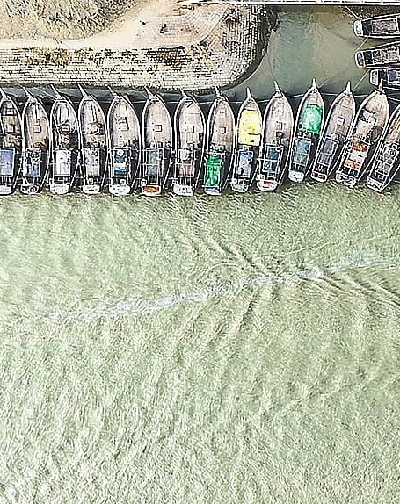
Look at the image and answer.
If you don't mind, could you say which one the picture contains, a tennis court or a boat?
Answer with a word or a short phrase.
boat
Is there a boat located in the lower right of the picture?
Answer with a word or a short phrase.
No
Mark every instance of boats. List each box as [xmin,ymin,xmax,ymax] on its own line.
[372,66,400,91]
[288,78,324,182]
[172,90,206,198]
[367,109,400,192]
[77,82,107,196]
[105,86,138,197]
[140,86,172,198]
[337,79,387,187]
[311,81,354,181]
[19,83,49,196]
[234,88,263,194]
[0,88,23,196]
[203,87,236,197]
[257,80,293,192]
[355,14,400,40]
[48,85,78,196]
